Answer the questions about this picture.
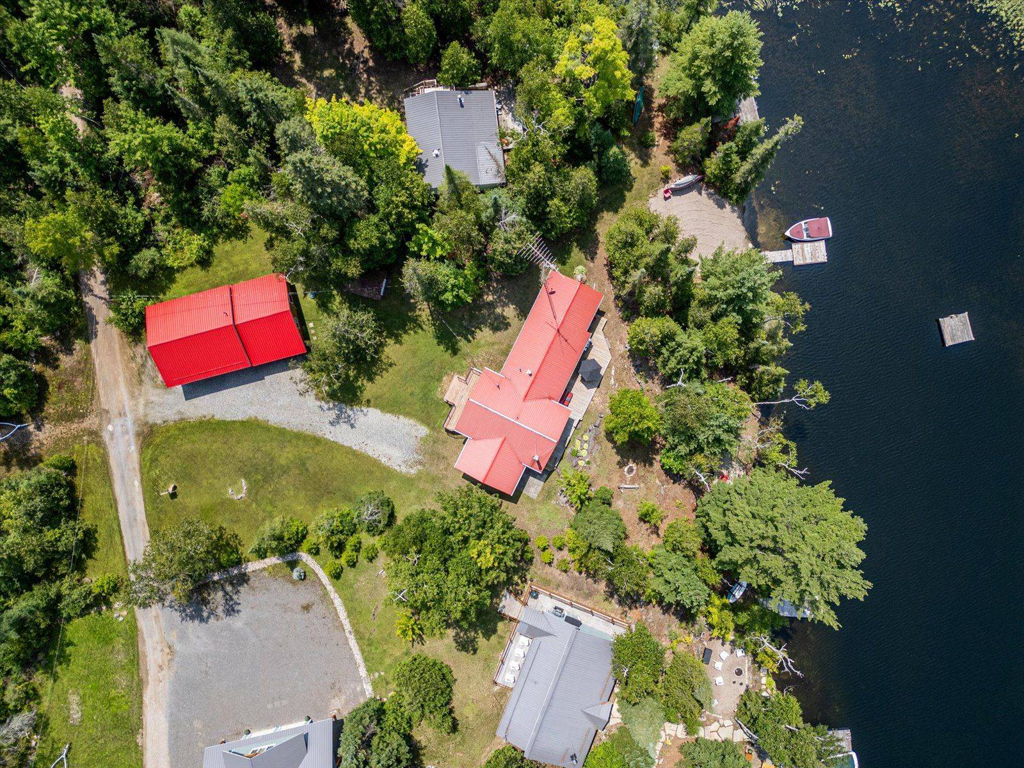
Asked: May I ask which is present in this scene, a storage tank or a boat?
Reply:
boat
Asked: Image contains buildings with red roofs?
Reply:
Yes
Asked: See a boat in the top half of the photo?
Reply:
Yes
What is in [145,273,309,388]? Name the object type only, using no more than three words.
building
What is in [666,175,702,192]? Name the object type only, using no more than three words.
boat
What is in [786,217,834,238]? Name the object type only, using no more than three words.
boat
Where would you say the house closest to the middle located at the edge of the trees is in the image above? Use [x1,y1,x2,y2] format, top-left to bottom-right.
[455,270,603,496]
